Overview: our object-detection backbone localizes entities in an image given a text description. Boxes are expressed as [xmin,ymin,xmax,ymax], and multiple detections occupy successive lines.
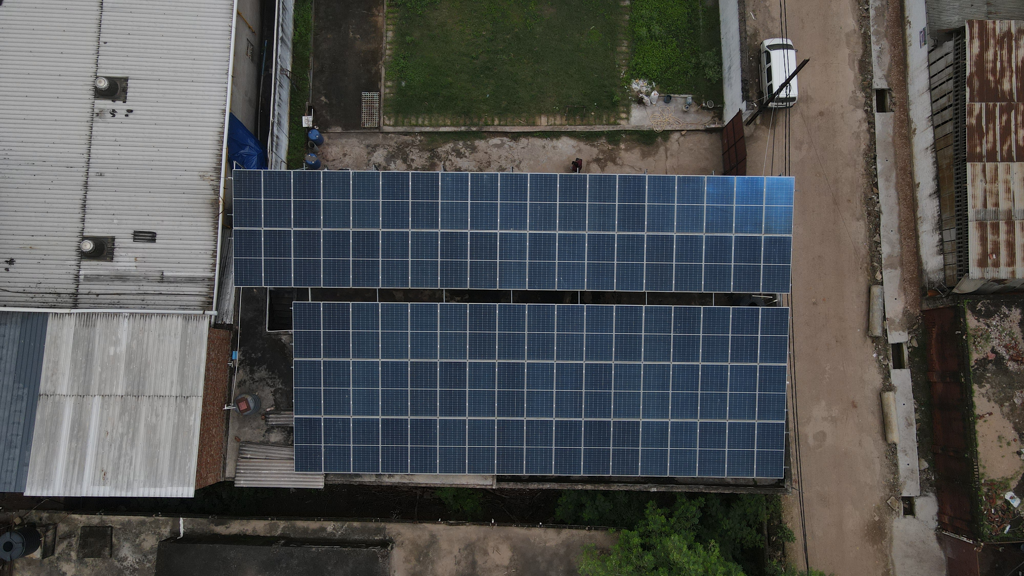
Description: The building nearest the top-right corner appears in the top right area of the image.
[909,0,1024,293]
